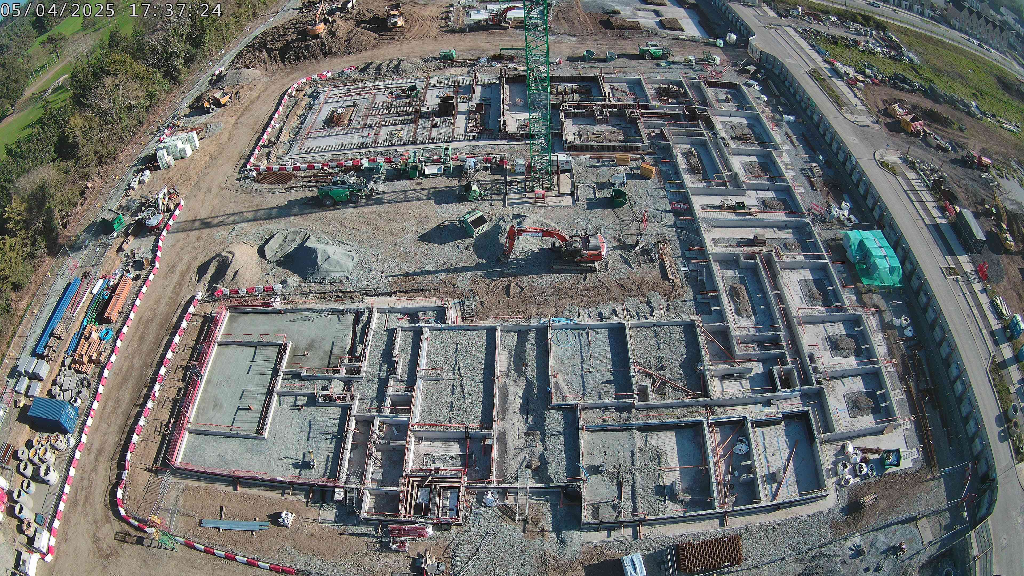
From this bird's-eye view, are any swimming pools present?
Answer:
No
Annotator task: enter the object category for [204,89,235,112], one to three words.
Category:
truck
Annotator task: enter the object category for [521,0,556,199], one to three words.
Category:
crane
